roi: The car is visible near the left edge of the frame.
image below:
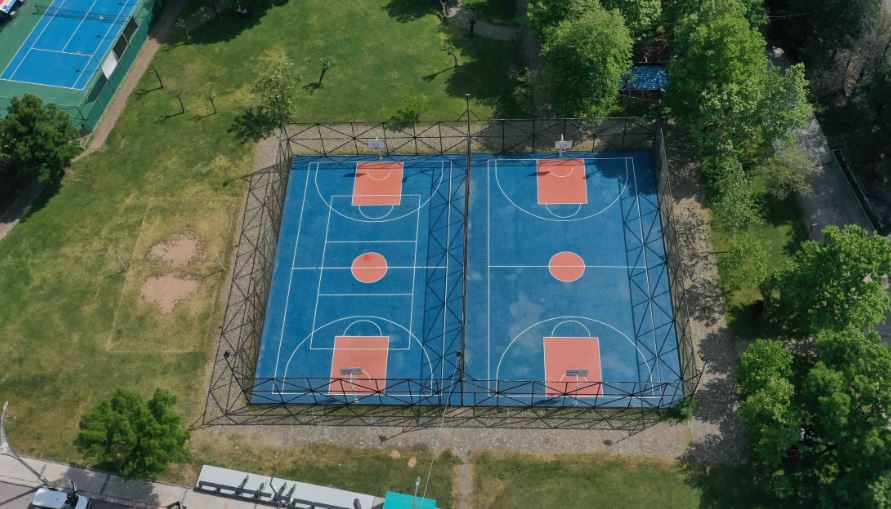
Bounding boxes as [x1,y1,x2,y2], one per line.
[30,480,94,509]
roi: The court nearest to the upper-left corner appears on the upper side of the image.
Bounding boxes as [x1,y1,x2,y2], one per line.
[0,0,153,144]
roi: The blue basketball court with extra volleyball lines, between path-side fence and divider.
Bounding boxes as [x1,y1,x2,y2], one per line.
[250,153,466,405]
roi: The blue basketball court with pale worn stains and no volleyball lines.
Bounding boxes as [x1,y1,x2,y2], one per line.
[463,152,687,407]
